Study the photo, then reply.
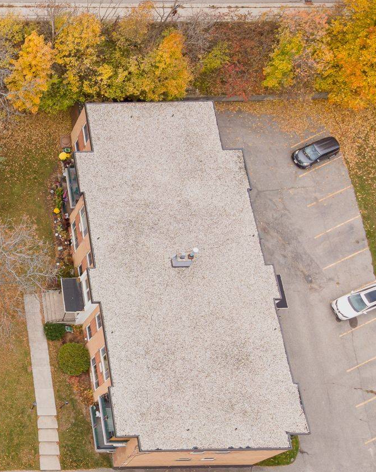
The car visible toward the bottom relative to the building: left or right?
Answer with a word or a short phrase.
to the right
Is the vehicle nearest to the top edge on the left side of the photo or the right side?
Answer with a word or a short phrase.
right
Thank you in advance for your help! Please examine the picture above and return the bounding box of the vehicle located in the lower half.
[331,283,376,321]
